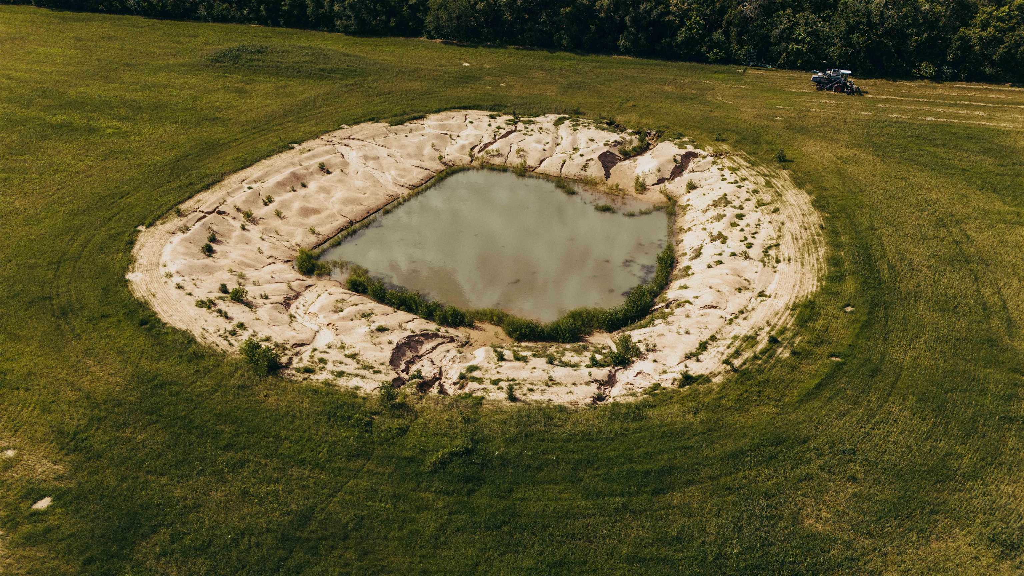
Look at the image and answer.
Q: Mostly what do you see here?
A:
grass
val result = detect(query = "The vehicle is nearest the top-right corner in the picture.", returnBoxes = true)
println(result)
[811,65,867,95]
